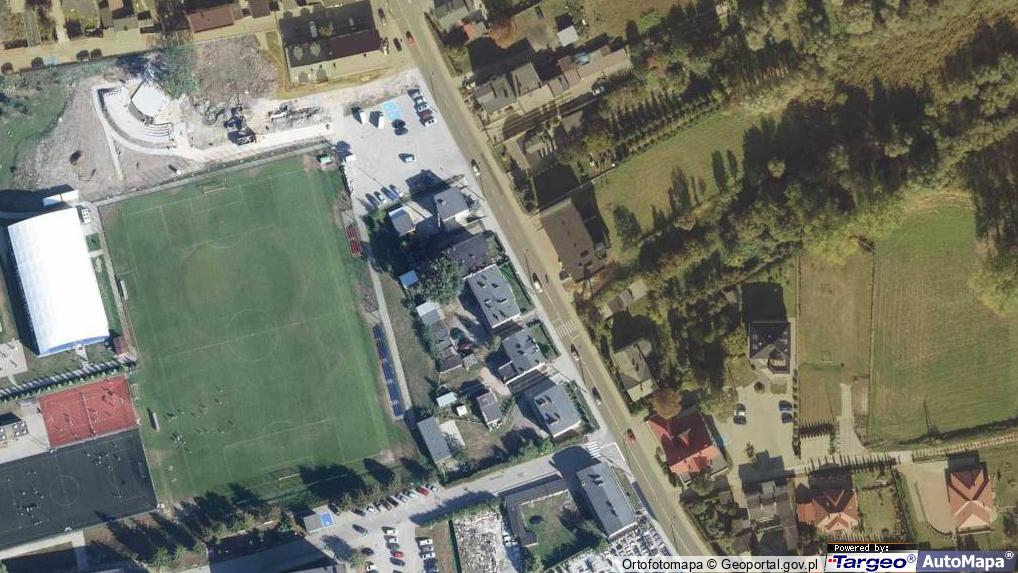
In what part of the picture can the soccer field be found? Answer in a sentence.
The soccer field appears toward the left of the photo.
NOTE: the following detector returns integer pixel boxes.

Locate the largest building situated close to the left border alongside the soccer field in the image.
[8,209,108,359]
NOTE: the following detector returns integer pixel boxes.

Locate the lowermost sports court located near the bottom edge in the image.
[0,428,158,552]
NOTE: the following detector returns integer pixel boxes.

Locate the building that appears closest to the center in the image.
[464,263,523,330]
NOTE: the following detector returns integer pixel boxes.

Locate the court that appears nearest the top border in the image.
[38,377,139,447]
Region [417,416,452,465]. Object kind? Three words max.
barn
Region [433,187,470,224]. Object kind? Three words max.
house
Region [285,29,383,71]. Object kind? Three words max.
building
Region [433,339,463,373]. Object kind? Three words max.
shed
